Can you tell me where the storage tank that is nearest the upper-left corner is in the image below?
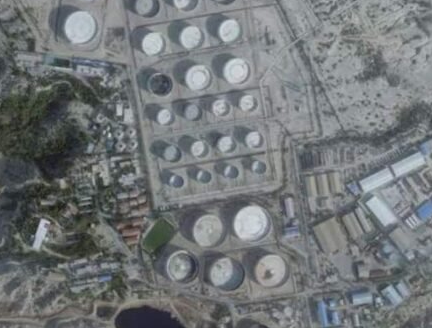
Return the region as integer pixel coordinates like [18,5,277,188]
[64,11,98,44]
